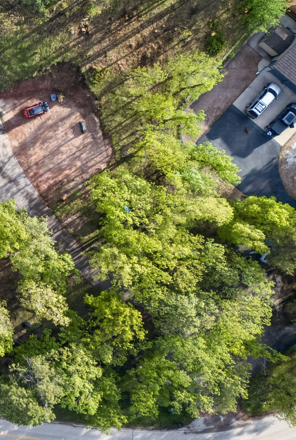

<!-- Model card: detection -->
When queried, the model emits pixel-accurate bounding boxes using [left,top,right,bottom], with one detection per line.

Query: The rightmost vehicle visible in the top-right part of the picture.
[265,98,296,141]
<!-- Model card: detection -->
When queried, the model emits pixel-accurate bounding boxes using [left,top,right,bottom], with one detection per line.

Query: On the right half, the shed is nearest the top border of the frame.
[255,26,294,58]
